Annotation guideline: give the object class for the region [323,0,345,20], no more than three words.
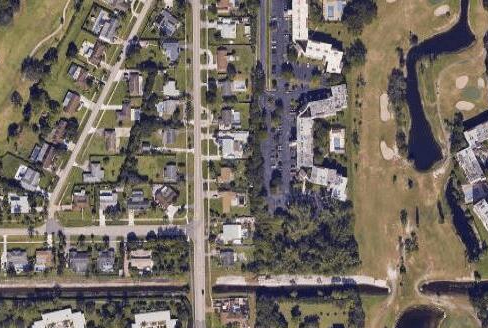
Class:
swimming pool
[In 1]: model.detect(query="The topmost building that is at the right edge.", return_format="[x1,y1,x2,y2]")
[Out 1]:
[464,121,488,149]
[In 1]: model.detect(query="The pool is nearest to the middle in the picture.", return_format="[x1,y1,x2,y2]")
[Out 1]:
[330,130,345,153]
